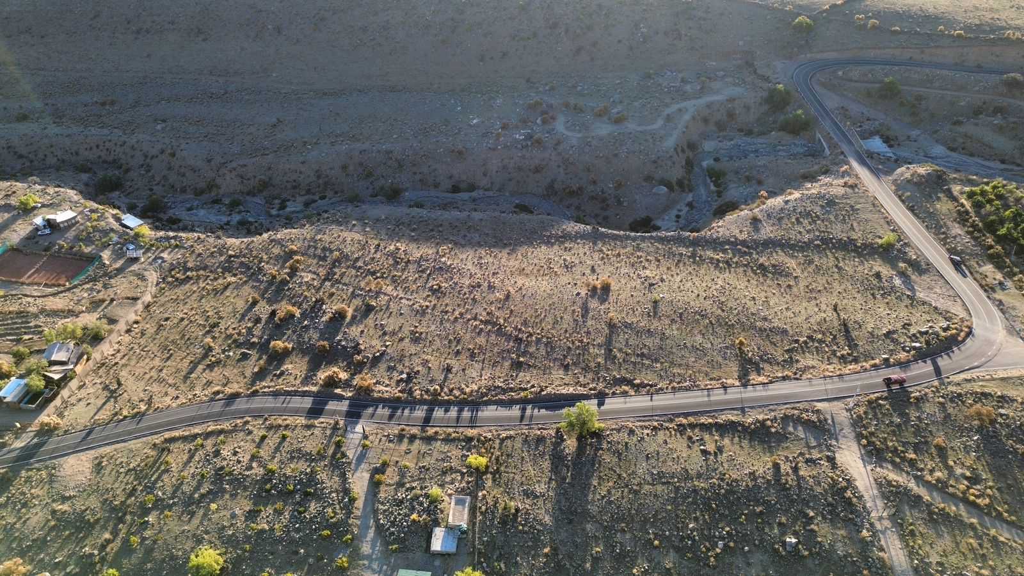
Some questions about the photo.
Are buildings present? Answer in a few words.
Yes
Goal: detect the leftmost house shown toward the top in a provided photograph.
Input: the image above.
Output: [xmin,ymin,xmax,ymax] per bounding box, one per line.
[25,209,81,236]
